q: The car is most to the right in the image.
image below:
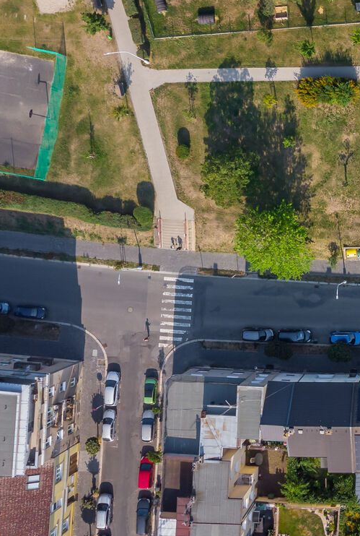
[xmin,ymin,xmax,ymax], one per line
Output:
[331,331,360,346]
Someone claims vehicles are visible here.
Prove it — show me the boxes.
[134,498,152,536]
[279,327,314,343]
[140,410,157,443]
[331,331,360,346]
[100,408,118,443]
[0,301,11,313]
[103,368,122,405]
[96,493,115,530]
[98,528,114,536]
[138,455,153,490]
[142,372,159,405]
